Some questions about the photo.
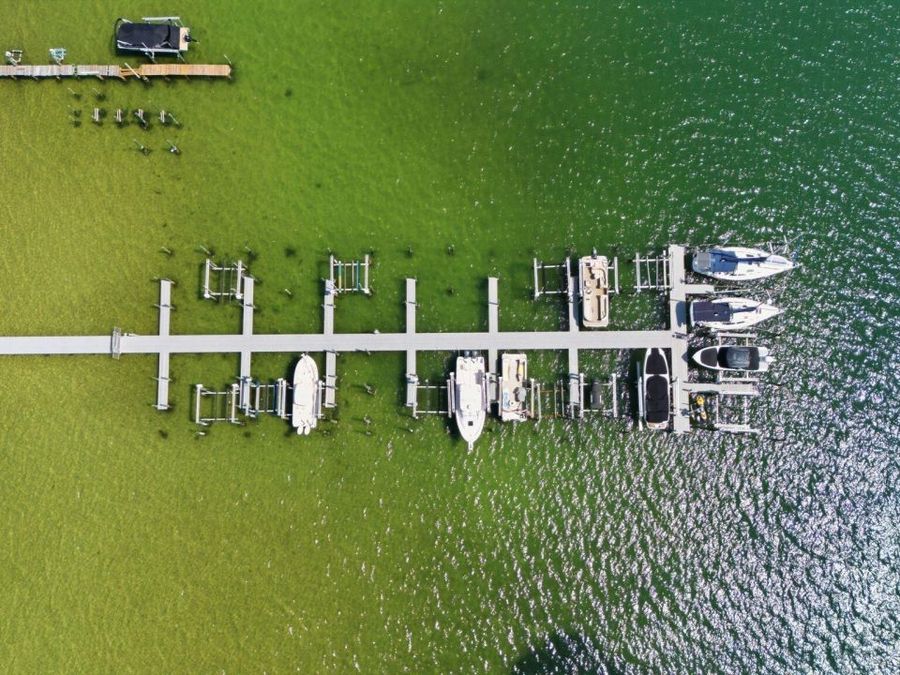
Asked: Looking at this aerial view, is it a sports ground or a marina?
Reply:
marina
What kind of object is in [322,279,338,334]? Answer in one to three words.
pier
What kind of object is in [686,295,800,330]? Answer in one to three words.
boat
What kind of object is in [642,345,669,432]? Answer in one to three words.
boat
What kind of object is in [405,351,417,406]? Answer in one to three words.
pier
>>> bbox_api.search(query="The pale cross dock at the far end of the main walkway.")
[667,245,693,432]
